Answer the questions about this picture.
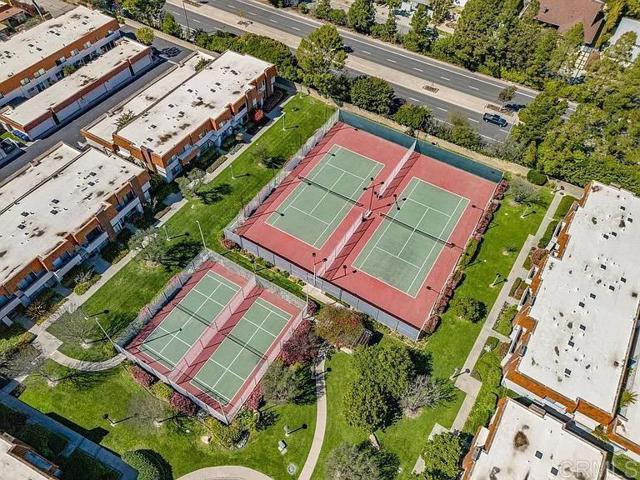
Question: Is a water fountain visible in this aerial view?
No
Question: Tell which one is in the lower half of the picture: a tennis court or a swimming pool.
tennis court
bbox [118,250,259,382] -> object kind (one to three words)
tennis court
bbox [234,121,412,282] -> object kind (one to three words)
tennis court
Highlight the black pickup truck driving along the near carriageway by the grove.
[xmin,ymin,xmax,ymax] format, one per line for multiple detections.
[481,111,509,128]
